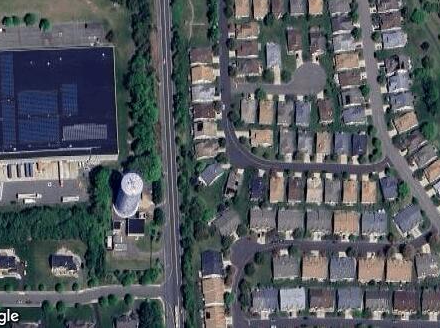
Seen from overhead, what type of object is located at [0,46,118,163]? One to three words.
warehouse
